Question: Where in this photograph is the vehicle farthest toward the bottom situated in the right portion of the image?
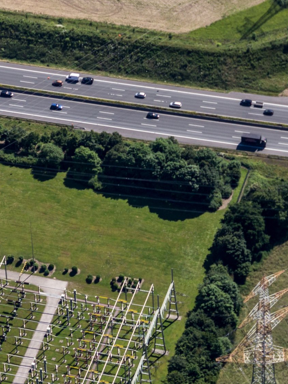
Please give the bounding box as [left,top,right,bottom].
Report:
[242,133,266,147]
